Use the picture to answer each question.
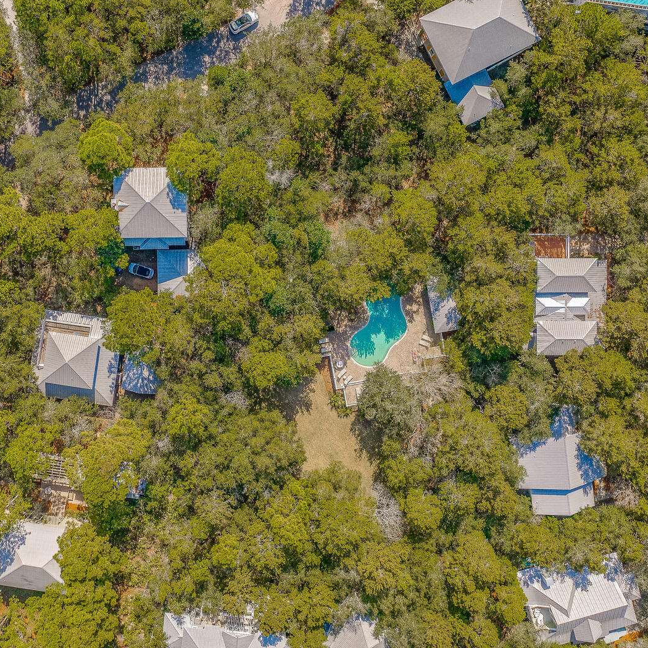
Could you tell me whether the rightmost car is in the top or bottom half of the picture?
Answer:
top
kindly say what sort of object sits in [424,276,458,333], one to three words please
building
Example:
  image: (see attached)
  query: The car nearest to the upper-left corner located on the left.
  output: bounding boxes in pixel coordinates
[230,10,260,31]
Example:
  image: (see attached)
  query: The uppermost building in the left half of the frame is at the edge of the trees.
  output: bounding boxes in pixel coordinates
[110,167,190,249]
